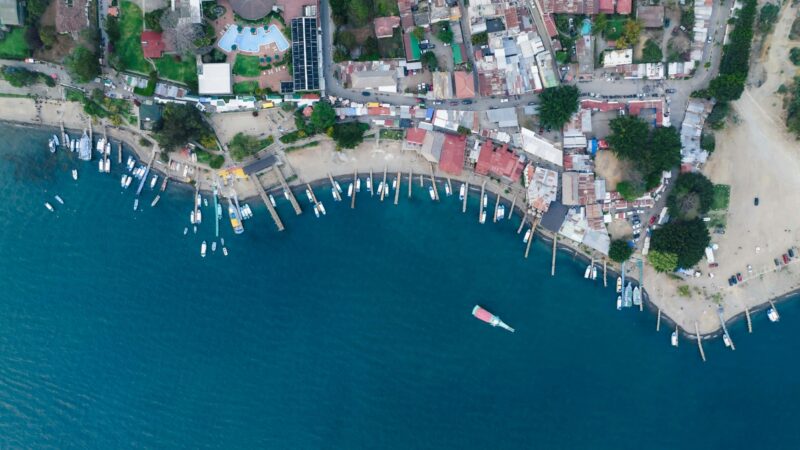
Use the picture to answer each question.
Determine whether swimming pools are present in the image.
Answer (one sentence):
Yes, I can see a swimming pool in this picture.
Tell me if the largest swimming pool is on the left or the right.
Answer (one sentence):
You can find the largest swimming pool on the left side of the picture.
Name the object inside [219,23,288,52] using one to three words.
swimming pool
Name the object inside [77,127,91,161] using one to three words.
vessel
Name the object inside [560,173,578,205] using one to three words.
building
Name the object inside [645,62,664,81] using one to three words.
house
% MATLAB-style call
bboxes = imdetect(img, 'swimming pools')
[580,21,592,35]
[219,23,288,52]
